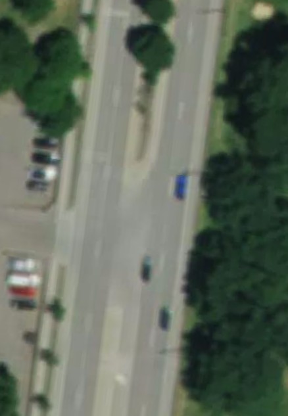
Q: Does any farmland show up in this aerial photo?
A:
No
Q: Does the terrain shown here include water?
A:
No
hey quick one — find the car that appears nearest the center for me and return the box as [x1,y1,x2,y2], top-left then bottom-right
[175,173,188,200]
